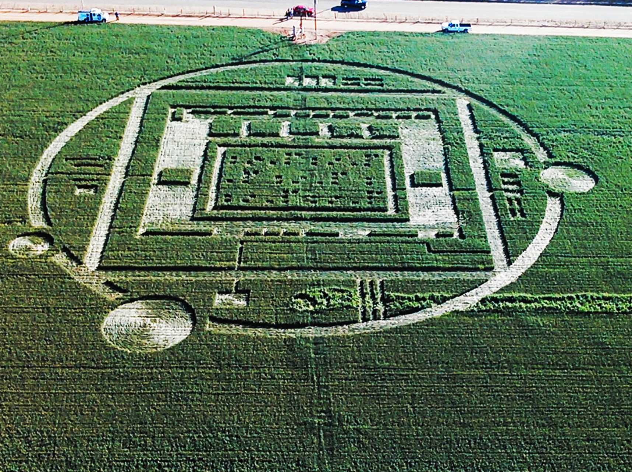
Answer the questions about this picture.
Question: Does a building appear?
No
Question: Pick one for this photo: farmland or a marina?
farmland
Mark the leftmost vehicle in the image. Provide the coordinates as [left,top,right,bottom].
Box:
[77,6,110,21]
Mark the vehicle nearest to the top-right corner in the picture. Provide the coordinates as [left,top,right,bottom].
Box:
[443,20,471,32]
